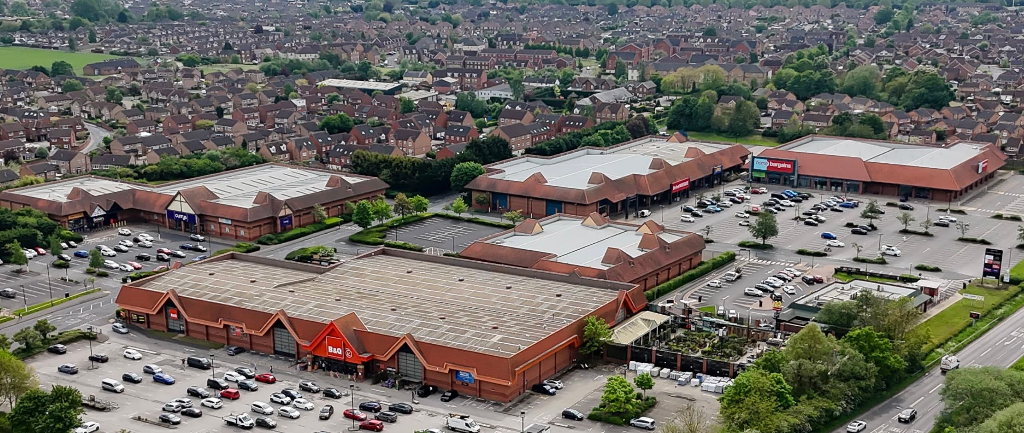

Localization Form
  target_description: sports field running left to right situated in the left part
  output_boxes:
[0,47,138,70]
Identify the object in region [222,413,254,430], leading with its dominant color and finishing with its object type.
white vehicle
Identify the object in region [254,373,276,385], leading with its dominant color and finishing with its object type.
red vehicle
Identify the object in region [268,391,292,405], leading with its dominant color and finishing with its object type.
white car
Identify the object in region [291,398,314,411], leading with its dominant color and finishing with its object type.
white vehicle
